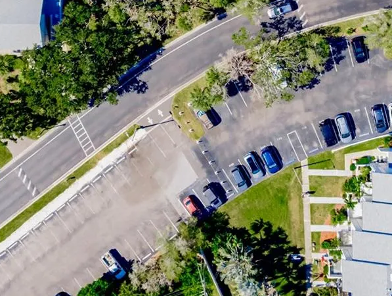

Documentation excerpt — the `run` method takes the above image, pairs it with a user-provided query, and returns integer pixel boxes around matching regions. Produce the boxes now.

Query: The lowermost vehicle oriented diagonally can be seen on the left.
[100,250,126,280]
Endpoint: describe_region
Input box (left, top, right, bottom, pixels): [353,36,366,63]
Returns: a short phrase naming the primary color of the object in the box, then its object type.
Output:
black vehicle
